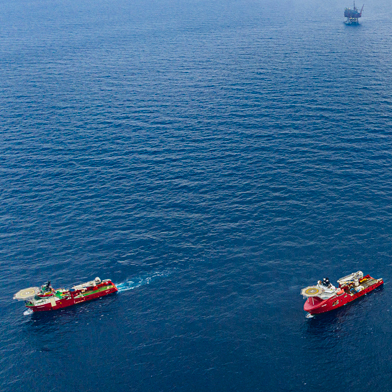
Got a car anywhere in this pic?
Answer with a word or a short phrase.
No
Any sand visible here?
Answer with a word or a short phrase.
No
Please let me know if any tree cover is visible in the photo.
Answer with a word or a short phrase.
No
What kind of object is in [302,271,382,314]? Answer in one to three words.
ship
